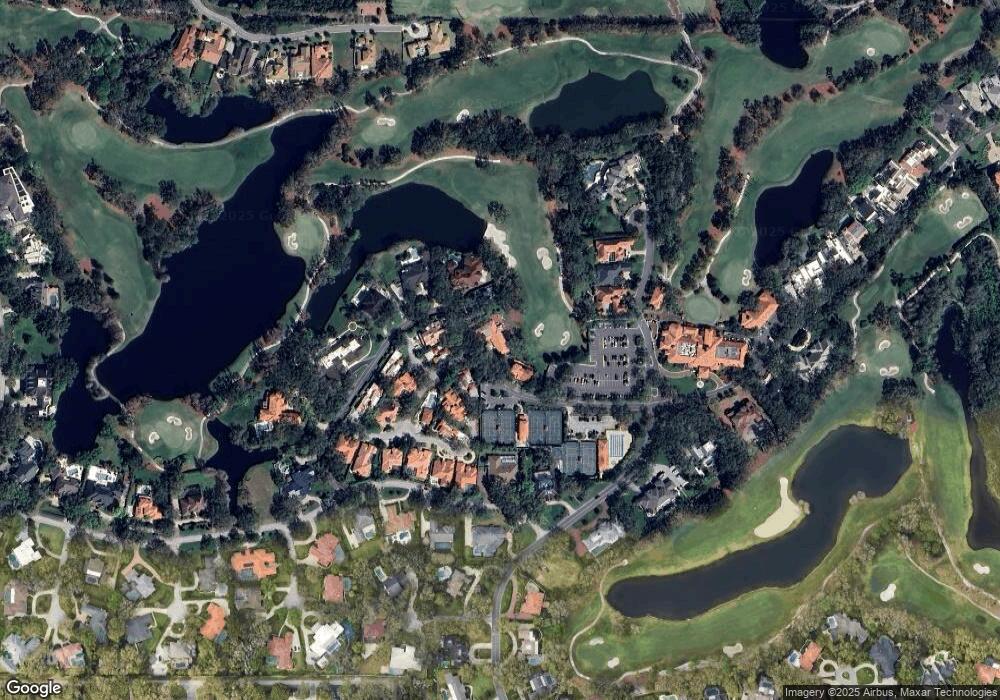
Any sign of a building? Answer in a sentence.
Yes, the image includes a building.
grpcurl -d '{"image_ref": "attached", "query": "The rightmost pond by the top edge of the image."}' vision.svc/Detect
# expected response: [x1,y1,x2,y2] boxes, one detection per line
[760,0,808,68]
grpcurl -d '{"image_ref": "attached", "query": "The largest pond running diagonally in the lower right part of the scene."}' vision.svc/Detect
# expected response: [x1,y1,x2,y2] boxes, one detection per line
[607,424,911,620]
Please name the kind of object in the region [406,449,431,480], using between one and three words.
house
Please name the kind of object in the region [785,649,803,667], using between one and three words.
swimming pool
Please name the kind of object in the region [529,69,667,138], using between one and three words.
pond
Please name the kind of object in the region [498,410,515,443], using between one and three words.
tennis court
